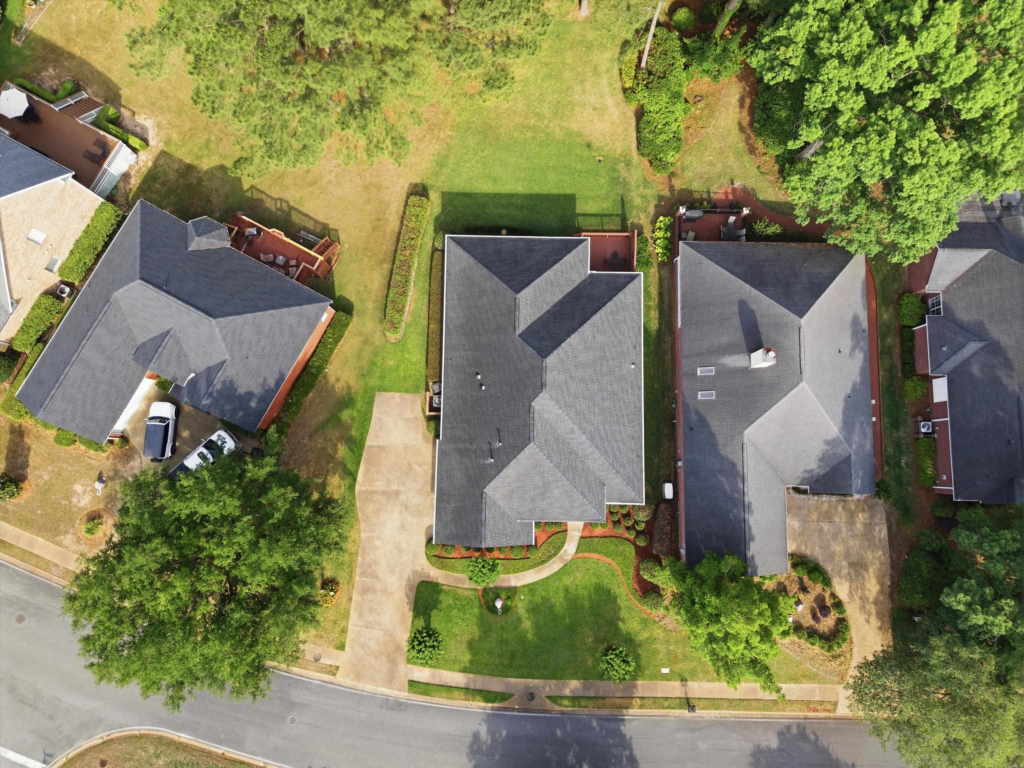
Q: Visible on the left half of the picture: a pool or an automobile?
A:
automobile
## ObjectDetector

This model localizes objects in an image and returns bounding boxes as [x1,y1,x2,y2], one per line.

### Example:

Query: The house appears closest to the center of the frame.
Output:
[432,234,645,548]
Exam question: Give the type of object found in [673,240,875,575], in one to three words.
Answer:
house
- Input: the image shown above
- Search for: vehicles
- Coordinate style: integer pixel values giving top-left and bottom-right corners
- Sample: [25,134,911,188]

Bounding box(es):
[144,398,181,460]
[164,424,241,489]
